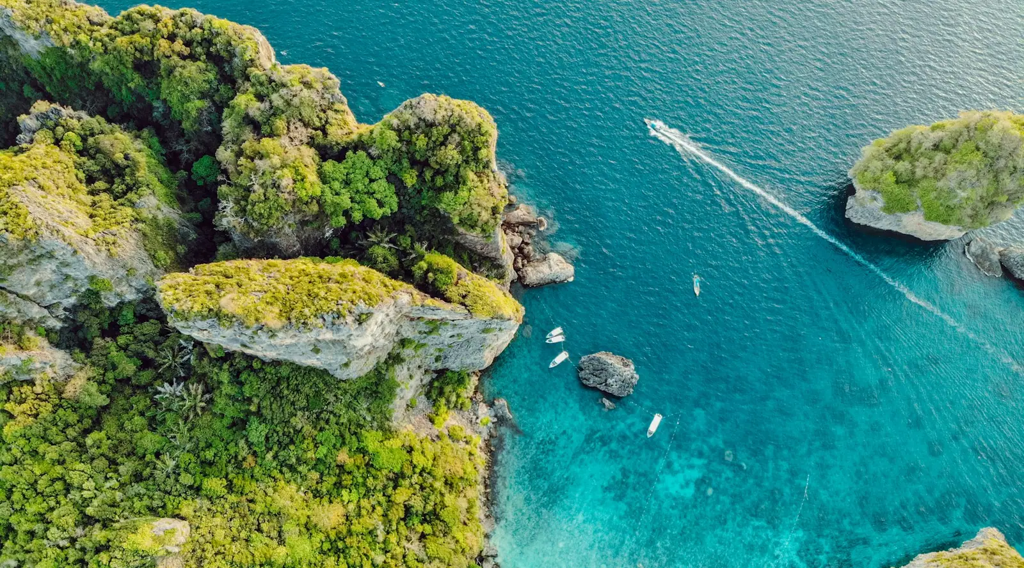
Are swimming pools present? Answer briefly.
No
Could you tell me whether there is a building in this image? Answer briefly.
No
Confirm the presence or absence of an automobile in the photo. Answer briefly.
No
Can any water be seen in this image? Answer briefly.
Yes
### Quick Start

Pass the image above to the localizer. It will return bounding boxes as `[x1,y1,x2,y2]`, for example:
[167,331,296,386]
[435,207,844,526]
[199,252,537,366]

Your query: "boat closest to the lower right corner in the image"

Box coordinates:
[647,412,662,437]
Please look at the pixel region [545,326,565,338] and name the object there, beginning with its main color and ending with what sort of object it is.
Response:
white boat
